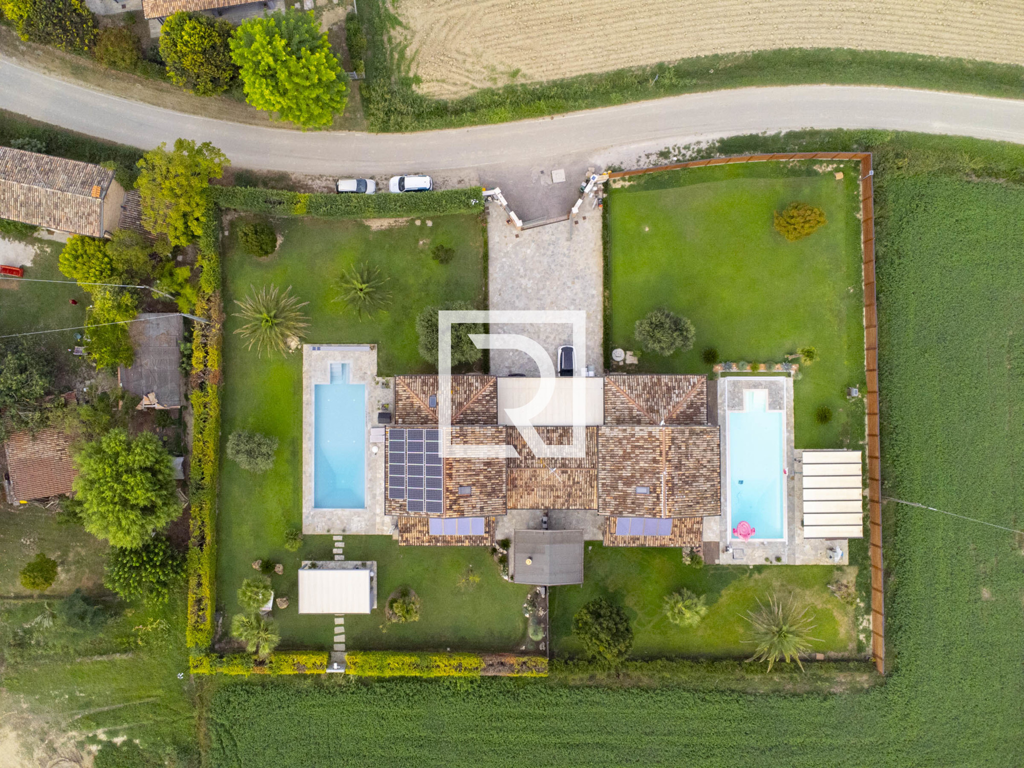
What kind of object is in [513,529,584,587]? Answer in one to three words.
shed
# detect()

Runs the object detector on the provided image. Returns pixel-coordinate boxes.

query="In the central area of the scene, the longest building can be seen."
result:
[384,374,722,547]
